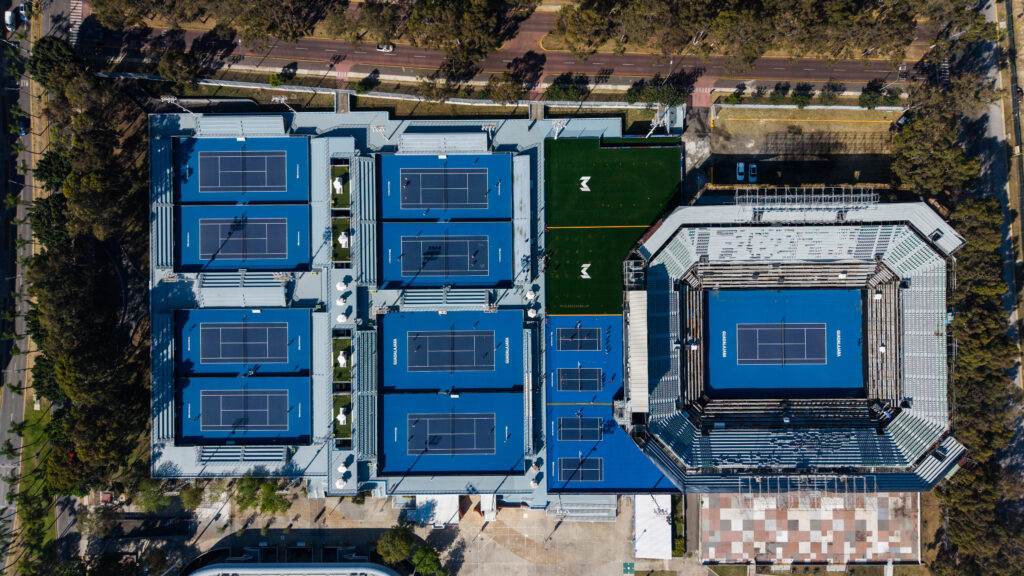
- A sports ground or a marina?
sports ground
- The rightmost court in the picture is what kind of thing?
tennis court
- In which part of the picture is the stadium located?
right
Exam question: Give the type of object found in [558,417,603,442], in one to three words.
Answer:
sports court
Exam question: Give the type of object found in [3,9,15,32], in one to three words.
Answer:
vehicle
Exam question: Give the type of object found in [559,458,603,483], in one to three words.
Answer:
sports court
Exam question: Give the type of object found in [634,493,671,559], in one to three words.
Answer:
tent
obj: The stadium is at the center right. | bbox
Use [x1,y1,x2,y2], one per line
[611,188,970,509]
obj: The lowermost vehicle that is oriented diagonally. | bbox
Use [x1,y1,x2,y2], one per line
[894,113,909,130]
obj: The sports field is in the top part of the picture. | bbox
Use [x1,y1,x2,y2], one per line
[546,137,684,315]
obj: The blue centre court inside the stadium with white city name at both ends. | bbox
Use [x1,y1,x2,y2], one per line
[704,287,862,400]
